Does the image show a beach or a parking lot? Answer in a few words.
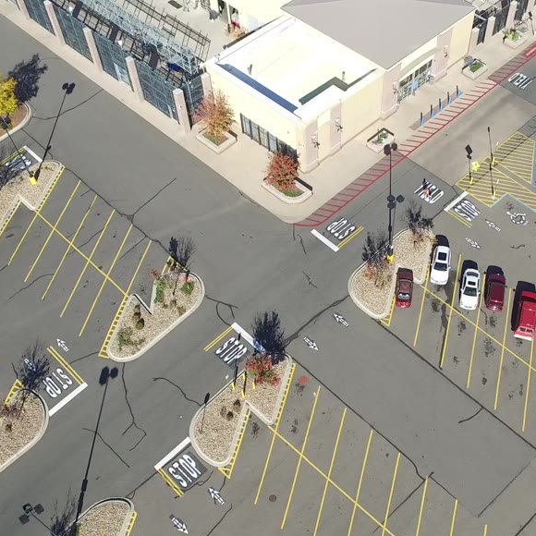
parking lot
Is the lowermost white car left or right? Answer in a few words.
right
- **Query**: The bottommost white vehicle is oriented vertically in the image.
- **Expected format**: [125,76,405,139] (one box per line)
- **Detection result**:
[459,268,481,312]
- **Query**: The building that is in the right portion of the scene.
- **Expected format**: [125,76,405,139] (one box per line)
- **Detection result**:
[194,0,481,173]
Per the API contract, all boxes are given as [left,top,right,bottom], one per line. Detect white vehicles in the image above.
[430,245,451,286]
[459,268,481,312]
